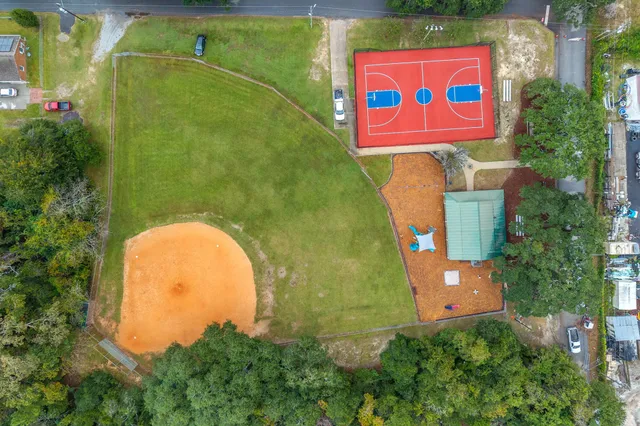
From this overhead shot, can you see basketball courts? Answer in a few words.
Yes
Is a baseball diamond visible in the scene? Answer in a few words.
Yes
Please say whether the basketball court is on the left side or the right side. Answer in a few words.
right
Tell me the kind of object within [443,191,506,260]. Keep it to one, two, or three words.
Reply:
building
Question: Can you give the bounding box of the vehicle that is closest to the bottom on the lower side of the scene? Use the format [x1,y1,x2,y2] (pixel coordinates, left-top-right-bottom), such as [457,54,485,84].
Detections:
[564,326,581,355]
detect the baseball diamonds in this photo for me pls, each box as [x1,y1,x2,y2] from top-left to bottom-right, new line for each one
[92,57,419,369]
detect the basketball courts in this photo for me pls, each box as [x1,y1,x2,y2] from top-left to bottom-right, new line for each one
[355,46,496,147]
